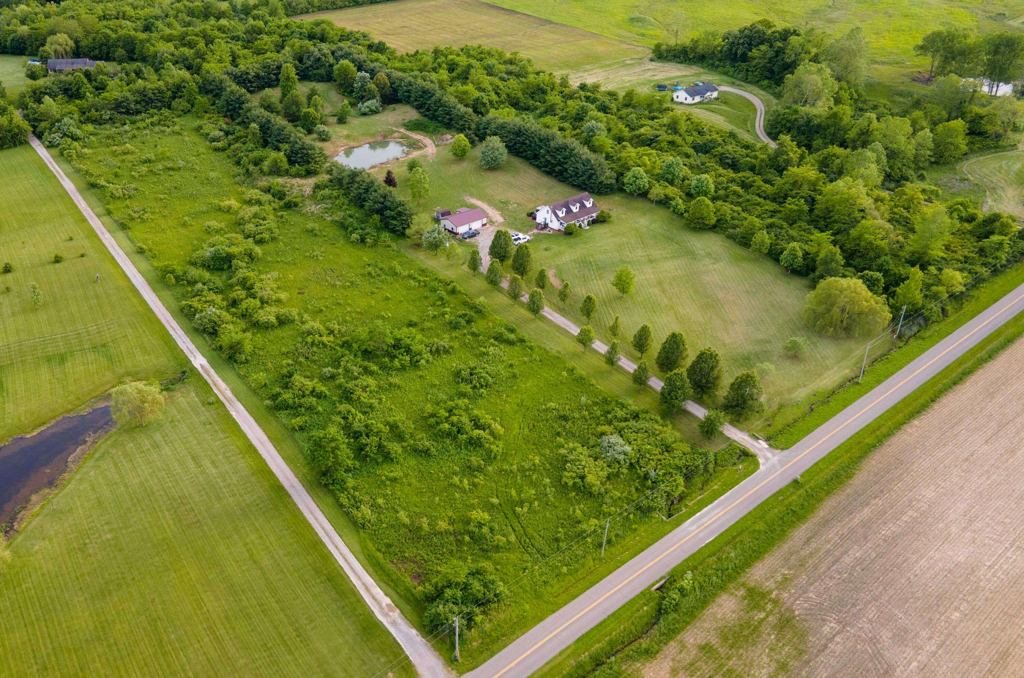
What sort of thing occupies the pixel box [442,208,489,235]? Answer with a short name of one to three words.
building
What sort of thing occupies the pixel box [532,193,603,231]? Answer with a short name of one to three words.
house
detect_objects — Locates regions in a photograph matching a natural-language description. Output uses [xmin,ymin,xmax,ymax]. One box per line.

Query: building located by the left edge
[45,60,113,76]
